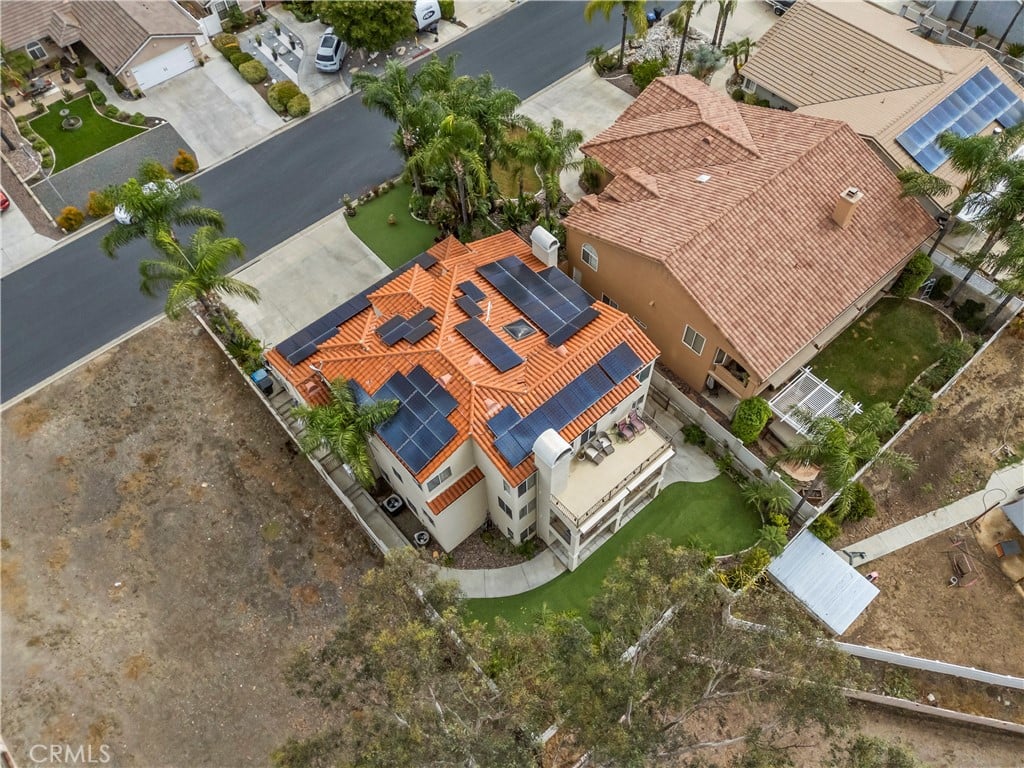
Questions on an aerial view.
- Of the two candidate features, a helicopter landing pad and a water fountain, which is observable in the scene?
water fountain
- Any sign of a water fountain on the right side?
No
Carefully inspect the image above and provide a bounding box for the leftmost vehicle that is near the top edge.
[310,34,344,71]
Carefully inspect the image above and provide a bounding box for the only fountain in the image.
[53,101,81,129]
